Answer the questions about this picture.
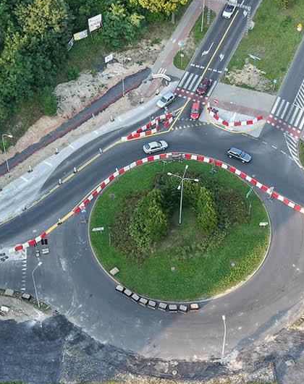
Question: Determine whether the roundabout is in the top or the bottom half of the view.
bottom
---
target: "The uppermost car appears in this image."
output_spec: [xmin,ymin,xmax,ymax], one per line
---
[222,0,235,19]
